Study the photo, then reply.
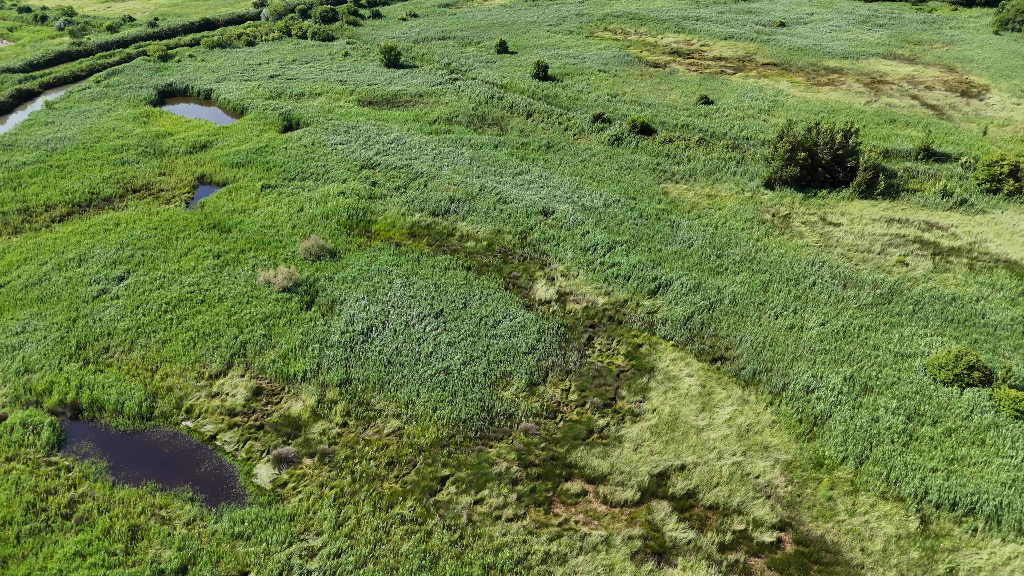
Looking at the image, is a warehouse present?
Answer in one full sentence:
No, I can't see a single warehouse in this photo.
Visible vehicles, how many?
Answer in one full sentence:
The count of vehicles is 0.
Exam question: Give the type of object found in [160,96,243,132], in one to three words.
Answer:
pond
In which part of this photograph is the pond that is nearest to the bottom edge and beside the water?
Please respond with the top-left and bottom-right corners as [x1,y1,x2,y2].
[59,419,253,514]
